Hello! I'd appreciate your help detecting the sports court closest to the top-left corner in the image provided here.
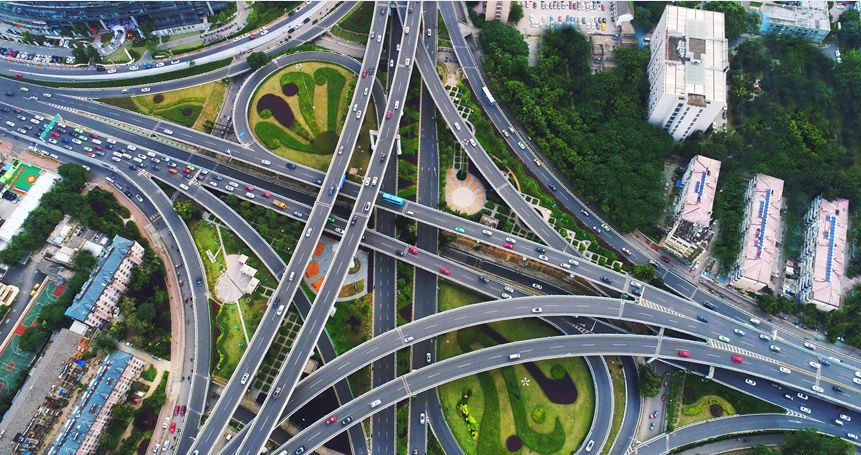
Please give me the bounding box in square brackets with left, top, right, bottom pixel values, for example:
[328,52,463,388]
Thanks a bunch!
[6,162,40,193]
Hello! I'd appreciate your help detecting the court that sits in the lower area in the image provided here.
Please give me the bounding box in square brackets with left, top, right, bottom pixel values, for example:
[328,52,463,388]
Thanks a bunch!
[0,281,65,402]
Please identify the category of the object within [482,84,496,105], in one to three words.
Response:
vehicle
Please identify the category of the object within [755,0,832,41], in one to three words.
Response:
building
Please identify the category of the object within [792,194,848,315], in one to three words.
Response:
building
